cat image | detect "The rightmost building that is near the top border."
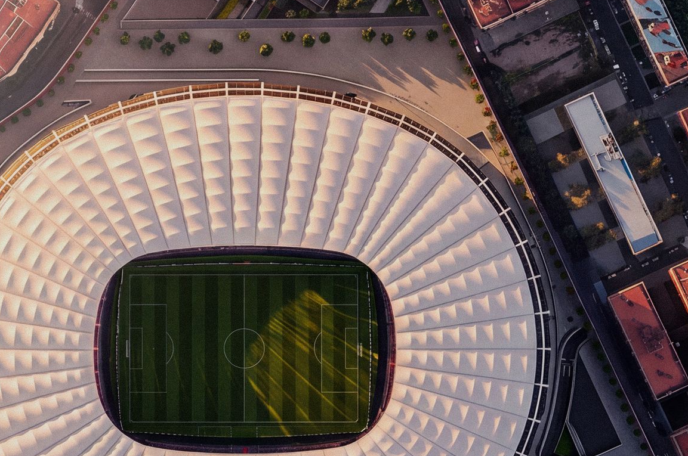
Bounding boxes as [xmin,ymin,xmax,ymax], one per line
[621,0,688,87]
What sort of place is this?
sports ground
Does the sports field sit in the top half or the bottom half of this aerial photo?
bottom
